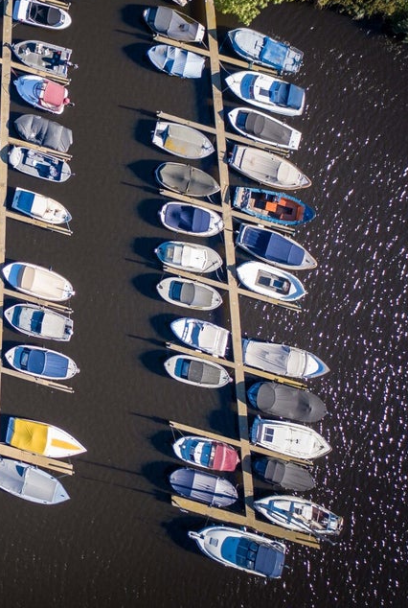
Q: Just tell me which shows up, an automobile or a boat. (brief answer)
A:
boat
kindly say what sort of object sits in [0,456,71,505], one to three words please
boat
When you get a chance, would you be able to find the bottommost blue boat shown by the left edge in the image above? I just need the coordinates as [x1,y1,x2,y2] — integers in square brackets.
[1,344,78,384]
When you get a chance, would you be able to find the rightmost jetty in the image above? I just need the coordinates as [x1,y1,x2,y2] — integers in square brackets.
[148,0,326,553]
